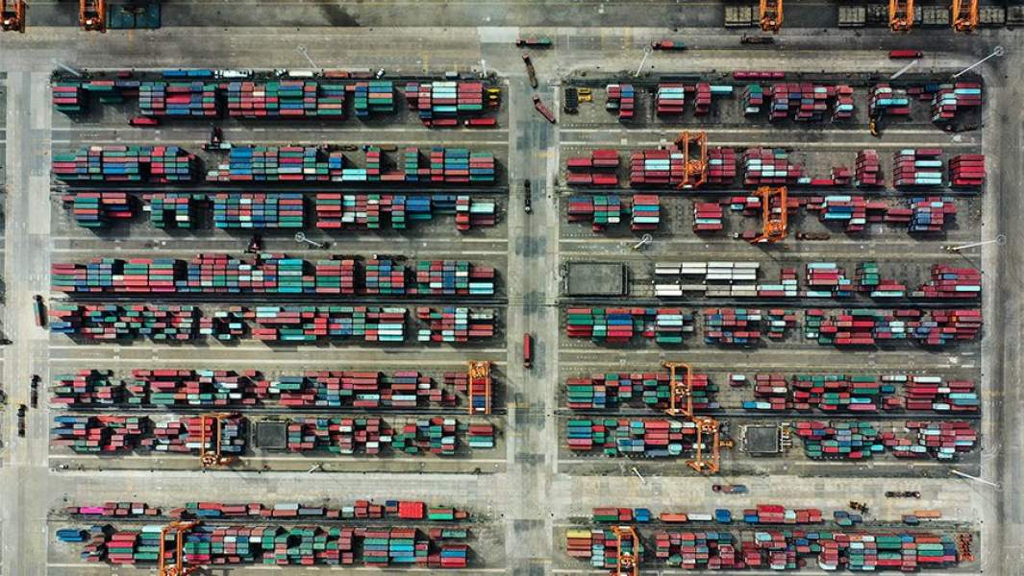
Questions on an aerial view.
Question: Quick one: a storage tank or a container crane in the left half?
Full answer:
Visible in the left half is a container crane.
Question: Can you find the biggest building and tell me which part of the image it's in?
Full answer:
You can find the biggest building in the center area of the picture.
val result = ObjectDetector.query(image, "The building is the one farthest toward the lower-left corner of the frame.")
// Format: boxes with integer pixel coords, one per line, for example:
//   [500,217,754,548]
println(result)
[256,418,291,450]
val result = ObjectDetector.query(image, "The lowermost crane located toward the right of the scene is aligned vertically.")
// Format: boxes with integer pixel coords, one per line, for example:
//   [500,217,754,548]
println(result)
[613,514,639,576]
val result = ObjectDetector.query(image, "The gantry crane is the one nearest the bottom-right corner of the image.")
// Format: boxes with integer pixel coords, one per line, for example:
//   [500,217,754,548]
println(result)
[682,410,720,471]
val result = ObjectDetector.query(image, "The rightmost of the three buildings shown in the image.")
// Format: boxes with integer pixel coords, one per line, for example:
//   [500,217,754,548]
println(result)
[743,422,780,454]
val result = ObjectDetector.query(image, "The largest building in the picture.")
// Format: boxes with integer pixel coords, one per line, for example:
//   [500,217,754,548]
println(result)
[565,261,625,294]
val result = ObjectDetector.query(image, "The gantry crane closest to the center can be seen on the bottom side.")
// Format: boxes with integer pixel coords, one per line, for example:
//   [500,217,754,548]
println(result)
[469,357,496,414]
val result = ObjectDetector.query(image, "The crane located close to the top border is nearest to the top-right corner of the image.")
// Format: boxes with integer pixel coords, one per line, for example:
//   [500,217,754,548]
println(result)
[953,0,979,32]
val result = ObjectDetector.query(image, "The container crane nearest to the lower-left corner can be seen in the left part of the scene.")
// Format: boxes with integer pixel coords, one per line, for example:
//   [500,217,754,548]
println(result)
[158,515,208,576]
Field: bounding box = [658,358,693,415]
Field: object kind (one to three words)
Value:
container crane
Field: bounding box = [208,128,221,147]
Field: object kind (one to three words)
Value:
vehicle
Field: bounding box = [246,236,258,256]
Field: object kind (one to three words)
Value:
vehicle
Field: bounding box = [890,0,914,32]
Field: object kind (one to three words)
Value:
container crane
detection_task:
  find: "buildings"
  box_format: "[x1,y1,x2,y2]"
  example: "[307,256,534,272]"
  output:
[743,422,780,454]
[565,261,625,294]
[256,418,291,450]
